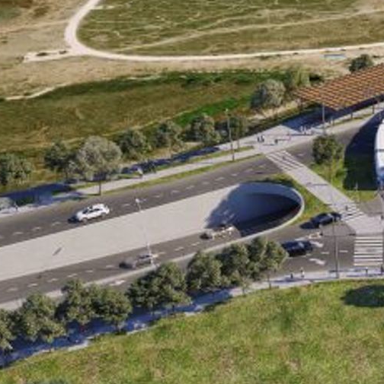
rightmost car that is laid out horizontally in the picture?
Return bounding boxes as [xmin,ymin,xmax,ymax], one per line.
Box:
[307,209,342,227]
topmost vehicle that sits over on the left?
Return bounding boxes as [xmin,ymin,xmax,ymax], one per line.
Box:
[74,201,110,223]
